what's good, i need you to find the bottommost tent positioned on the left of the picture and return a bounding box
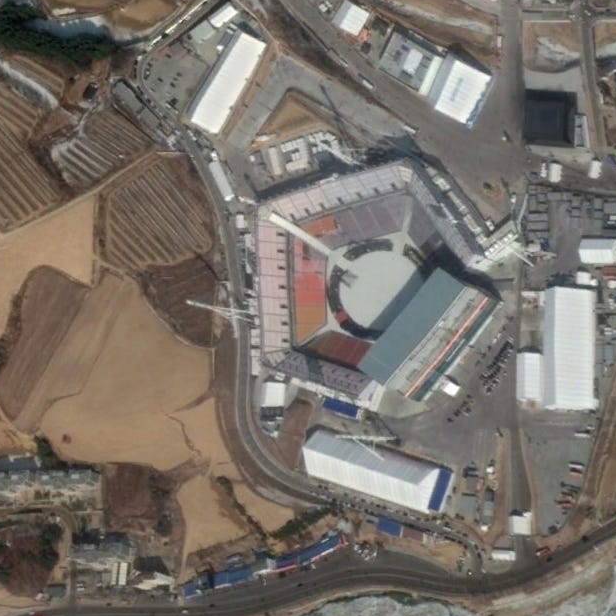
[187,28,270,134]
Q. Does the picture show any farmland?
Yes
